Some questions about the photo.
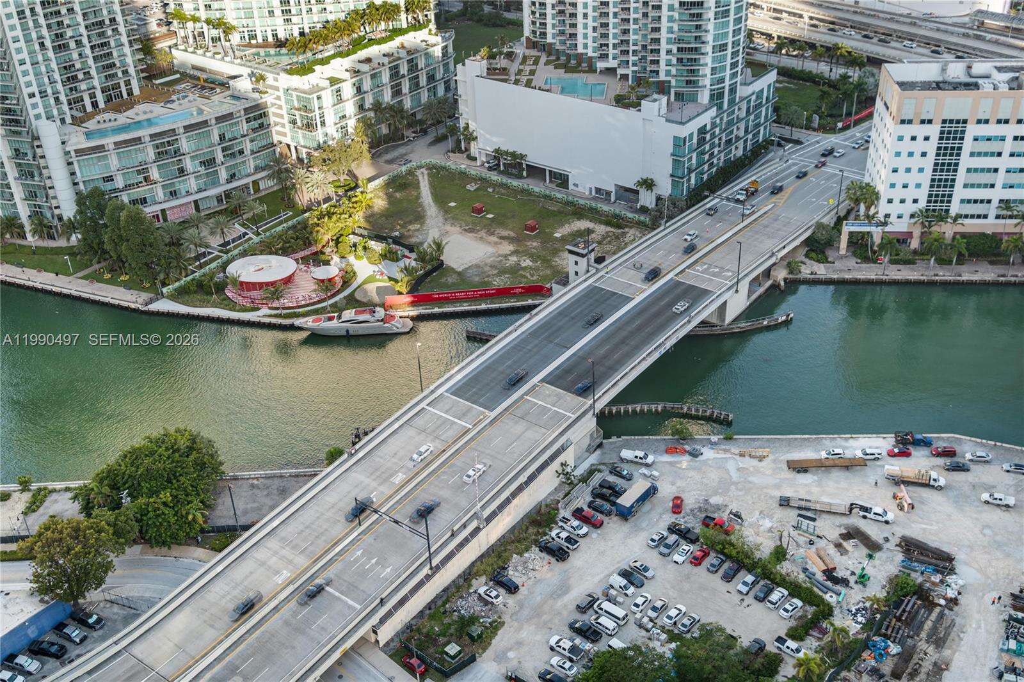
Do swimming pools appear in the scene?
Yes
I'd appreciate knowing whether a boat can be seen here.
Yes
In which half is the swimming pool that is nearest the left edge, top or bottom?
top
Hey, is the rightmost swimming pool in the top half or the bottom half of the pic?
top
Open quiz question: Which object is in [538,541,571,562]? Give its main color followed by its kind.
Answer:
black truck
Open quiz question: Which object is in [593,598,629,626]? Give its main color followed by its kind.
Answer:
white van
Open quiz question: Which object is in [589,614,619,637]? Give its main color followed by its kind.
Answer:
white vehicle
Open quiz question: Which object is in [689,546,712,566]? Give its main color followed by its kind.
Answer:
red car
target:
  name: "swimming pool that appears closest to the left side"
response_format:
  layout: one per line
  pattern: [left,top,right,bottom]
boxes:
[86,106,202,138]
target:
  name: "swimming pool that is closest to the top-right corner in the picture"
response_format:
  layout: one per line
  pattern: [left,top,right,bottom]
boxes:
[545,76,605,97]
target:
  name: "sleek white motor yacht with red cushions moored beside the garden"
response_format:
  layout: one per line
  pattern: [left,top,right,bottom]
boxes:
[300,309,416,337]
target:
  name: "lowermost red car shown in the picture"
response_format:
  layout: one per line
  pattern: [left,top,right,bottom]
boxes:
[399,654,428,676]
